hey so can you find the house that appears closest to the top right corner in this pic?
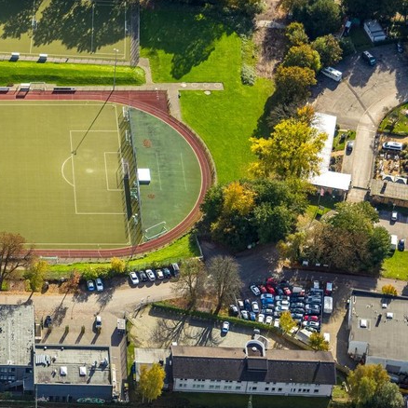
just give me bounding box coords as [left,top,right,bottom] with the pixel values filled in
[362,21,386,48]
